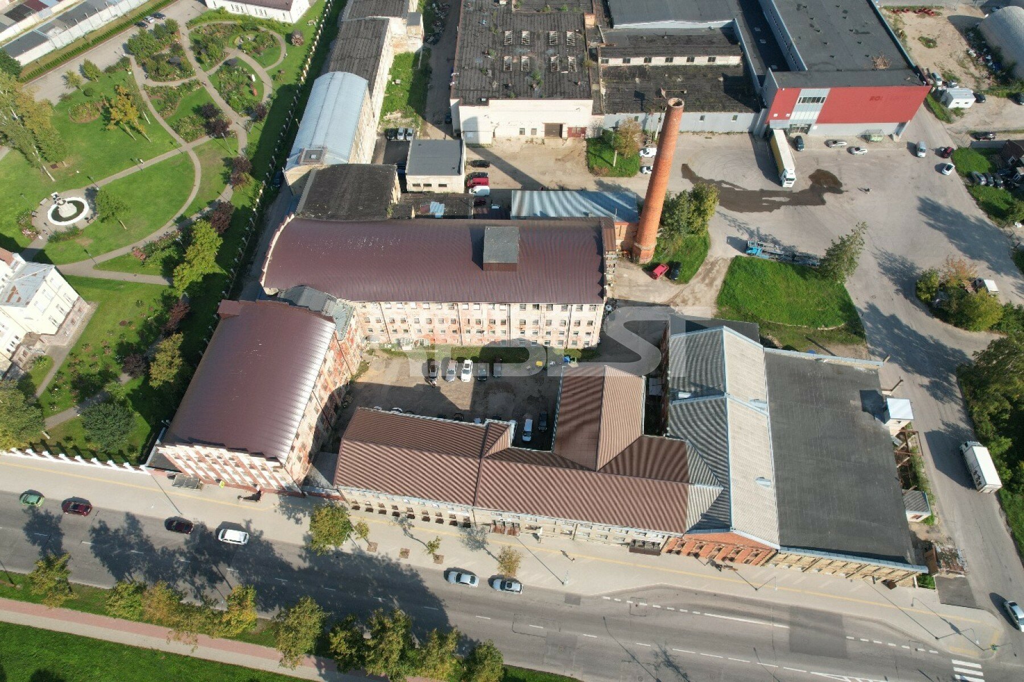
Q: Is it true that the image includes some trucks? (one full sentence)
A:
Yes, there's a truck here.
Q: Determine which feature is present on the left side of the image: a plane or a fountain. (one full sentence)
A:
There is a fountain on the left side of the image.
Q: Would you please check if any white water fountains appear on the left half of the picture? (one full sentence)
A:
Yes, a white water fountain is visible on the left half of the picture.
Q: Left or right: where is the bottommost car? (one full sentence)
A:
The bottommost car sits on the right side.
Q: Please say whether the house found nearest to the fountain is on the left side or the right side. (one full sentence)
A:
The house found nearest to the fountain sits on the left side.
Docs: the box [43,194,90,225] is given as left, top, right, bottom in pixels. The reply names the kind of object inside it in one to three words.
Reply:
fountain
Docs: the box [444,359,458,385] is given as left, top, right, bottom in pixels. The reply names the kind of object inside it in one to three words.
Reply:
car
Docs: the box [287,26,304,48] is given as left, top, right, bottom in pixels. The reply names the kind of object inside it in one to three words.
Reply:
gazebo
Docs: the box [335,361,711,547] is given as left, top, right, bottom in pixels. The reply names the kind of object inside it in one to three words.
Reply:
building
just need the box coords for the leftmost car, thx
[17,491,49,508]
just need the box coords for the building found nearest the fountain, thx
[0,261,91,346]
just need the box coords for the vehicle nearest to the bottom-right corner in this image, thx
[1000,598,1024,634]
